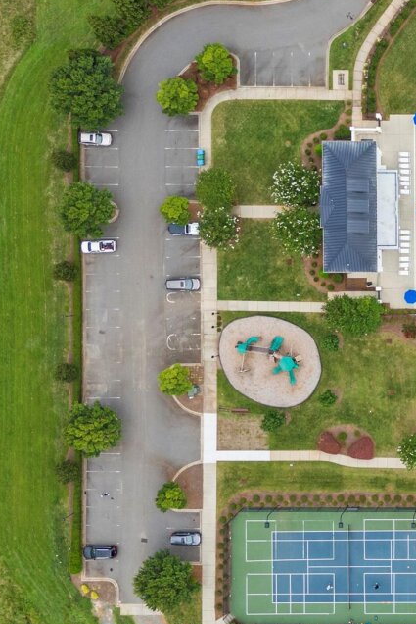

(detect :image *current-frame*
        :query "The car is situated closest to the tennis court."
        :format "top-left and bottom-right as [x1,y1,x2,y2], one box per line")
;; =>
[169,531,202,547]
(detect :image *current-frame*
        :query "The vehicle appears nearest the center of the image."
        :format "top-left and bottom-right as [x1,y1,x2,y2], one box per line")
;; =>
[165,276,201,292]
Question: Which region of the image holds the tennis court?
bottom right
